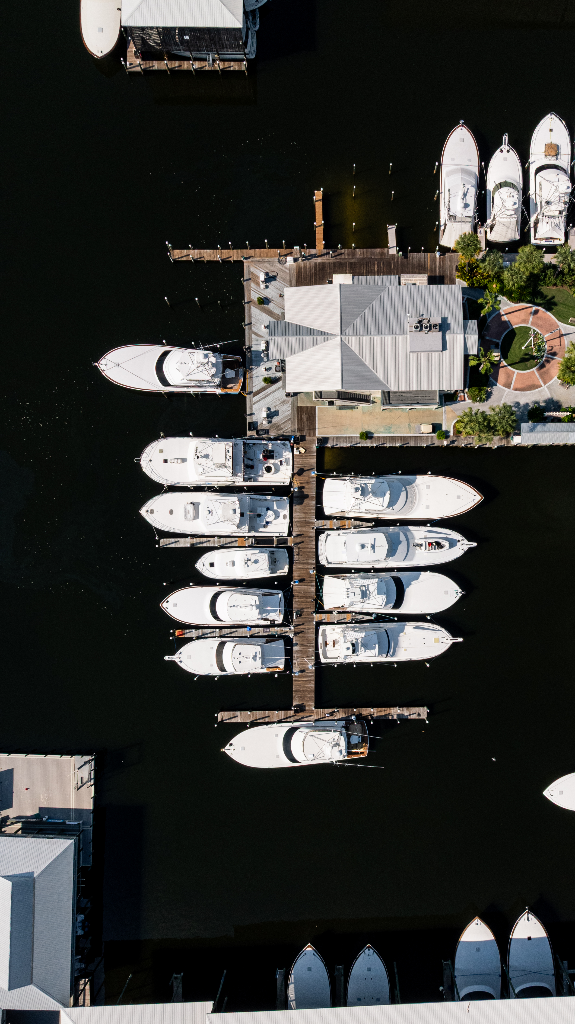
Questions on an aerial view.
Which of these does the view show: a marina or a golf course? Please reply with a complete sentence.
It's a marina.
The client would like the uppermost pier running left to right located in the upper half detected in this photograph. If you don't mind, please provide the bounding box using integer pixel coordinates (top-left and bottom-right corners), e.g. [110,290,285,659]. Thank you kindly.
[127,61,247,76]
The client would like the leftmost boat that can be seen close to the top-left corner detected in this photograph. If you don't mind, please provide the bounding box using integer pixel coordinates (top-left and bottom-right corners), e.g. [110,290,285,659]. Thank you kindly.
[81,0,121,61]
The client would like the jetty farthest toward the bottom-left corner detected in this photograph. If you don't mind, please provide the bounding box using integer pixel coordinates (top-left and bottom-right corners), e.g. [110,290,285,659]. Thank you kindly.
[72,977,92,1006]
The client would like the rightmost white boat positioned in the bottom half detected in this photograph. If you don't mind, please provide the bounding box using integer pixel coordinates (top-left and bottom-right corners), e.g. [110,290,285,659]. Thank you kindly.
[543,771,575,813]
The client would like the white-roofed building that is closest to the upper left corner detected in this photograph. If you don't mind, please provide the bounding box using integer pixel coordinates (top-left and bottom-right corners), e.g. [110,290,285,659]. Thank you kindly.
[120,0,251,69]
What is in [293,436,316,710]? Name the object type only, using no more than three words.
pier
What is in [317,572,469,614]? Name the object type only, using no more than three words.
boat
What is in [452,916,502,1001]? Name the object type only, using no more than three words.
boat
